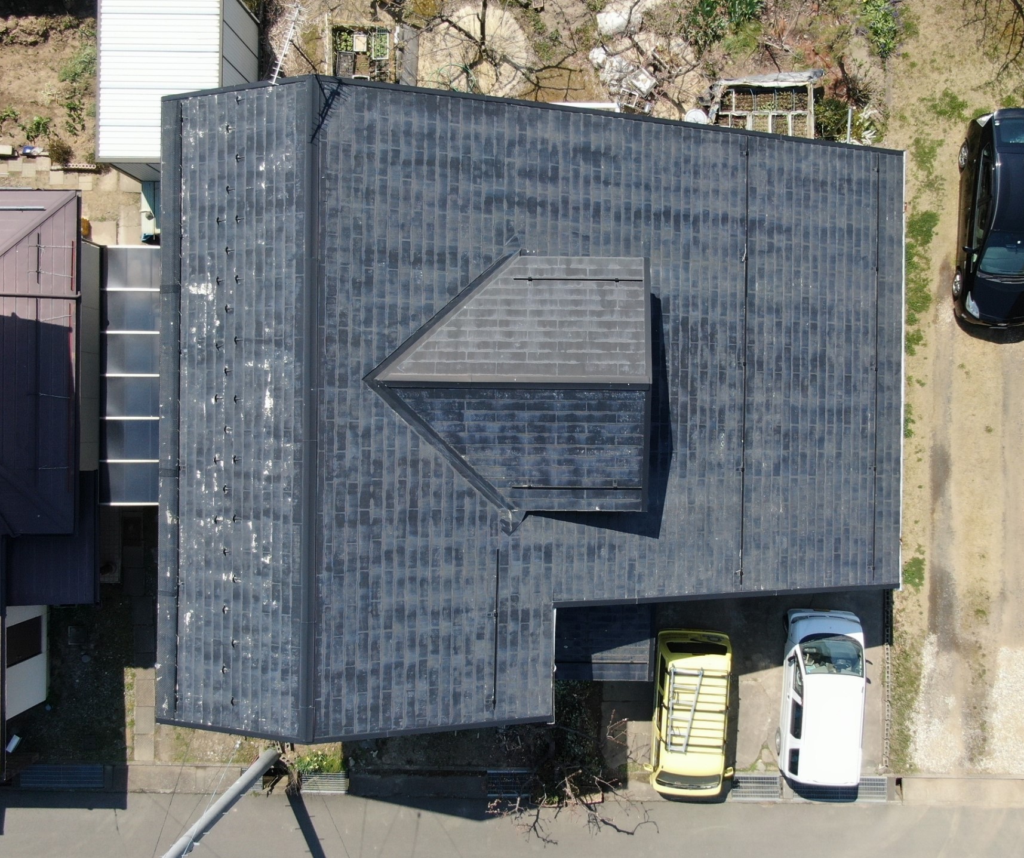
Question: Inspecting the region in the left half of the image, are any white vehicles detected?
No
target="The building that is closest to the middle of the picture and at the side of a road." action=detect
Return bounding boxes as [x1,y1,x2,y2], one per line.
[152,74,906,746]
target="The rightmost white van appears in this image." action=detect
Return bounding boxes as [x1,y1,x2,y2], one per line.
[771,607,869,790]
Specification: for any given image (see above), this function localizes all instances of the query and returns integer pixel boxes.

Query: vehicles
[771,607,869,790]
[952,110,1024,331]
[642,631,739,803]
